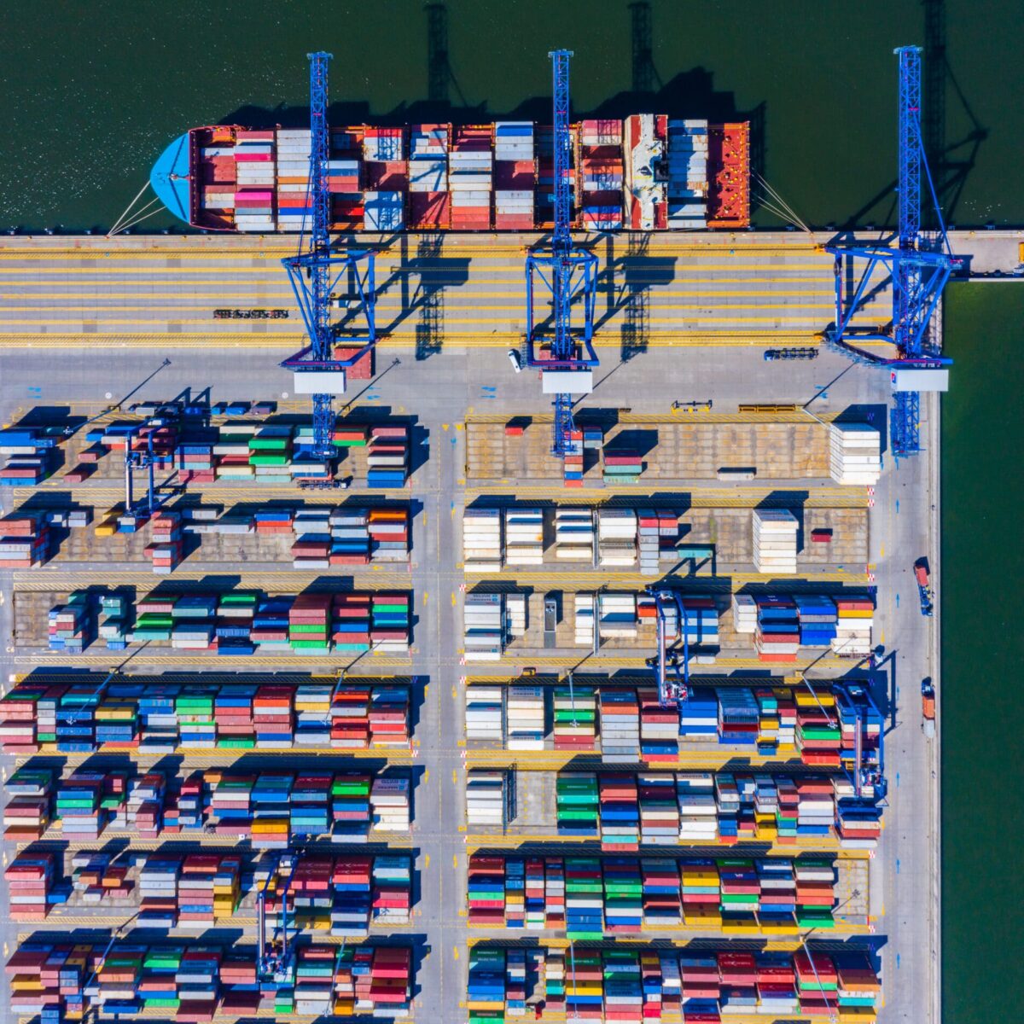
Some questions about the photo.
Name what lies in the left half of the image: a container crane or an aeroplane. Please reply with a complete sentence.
The feature located in the left half of the image is a container crane.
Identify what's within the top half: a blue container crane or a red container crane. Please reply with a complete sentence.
It is a blue container crane that can be seen within the top half.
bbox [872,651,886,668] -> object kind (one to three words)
vehicle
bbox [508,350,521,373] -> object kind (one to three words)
vehicle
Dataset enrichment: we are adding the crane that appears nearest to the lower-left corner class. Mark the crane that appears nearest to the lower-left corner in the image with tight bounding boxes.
[255,845,309,980]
